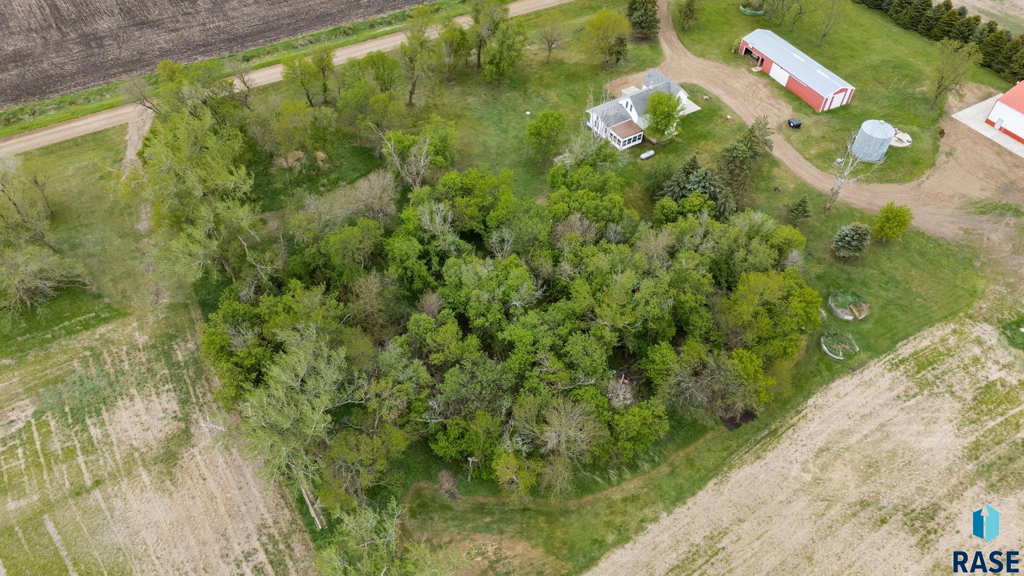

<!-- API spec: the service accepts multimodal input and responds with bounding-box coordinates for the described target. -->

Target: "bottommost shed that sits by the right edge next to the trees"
[985,81,1024,144]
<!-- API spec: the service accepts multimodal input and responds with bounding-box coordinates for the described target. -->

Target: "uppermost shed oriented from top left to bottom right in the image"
[739,29,856,111]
